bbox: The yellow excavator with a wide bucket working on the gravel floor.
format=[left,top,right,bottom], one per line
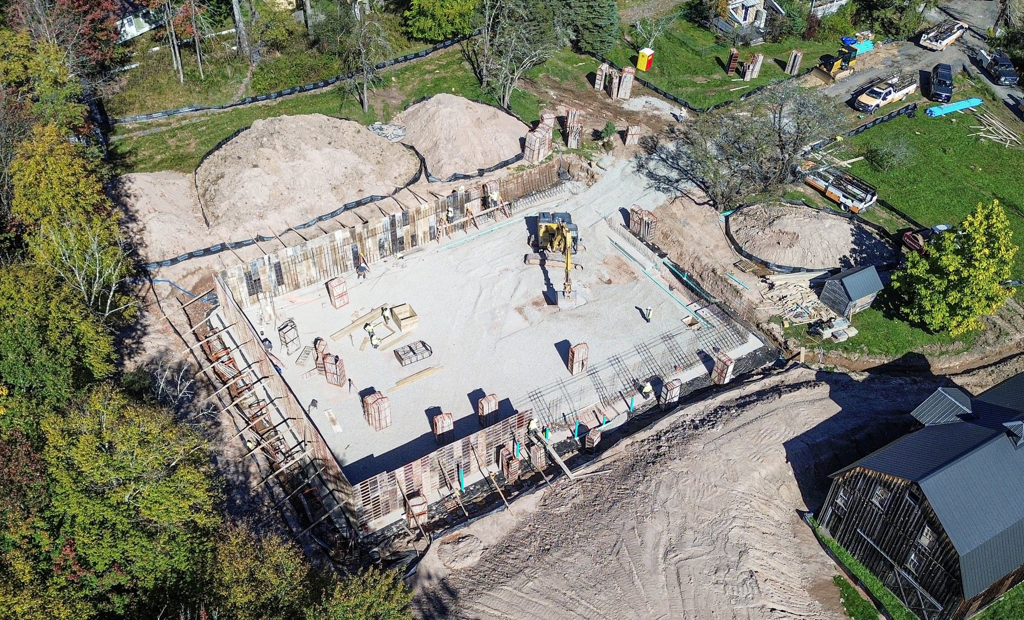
[525,221,582,310]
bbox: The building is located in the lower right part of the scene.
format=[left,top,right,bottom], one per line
[818,361,1024,620]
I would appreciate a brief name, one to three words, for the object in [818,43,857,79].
work vehicle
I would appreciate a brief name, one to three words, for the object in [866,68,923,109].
truck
